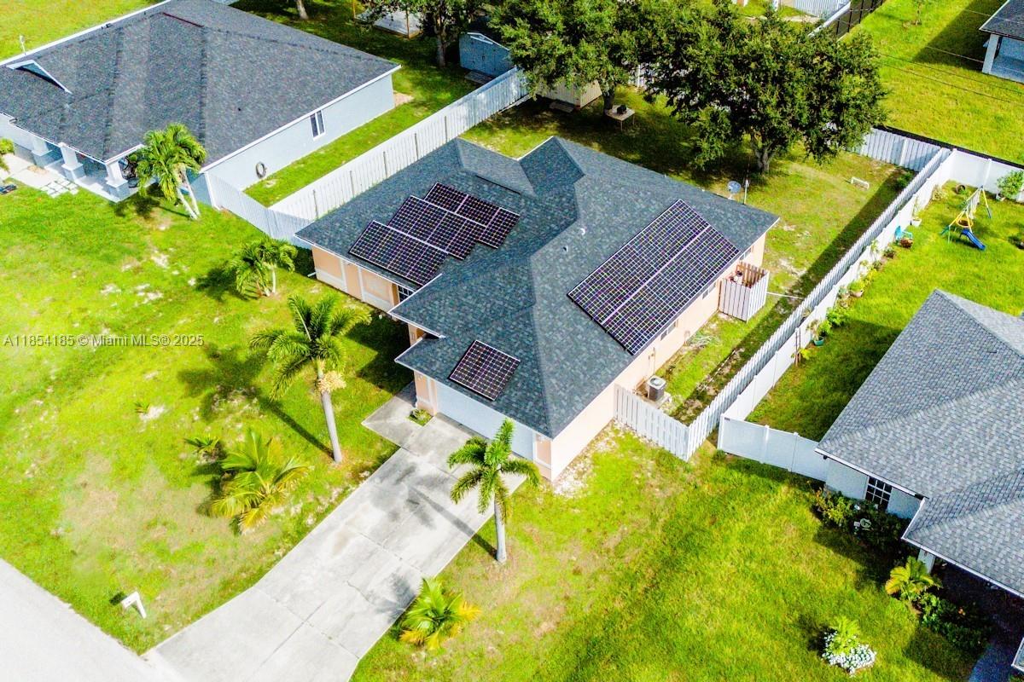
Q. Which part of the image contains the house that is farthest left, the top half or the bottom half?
top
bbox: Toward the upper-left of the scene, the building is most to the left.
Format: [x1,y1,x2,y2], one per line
[0,0,402,210]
